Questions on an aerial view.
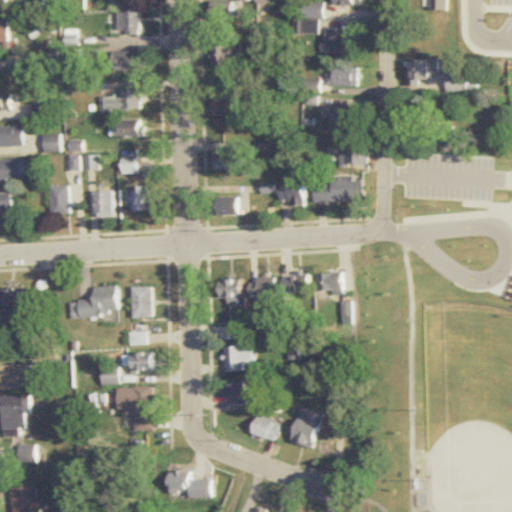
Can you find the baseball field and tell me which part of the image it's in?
bottom right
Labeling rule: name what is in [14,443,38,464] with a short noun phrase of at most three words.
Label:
building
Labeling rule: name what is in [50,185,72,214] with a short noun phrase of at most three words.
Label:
house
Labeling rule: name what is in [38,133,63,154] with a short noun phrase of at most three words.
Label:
building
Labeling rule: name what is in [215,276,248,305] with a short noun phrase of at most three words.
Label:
house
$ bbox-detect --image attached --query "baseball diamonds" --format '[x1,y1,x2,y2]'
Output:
[414,304,512,512]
